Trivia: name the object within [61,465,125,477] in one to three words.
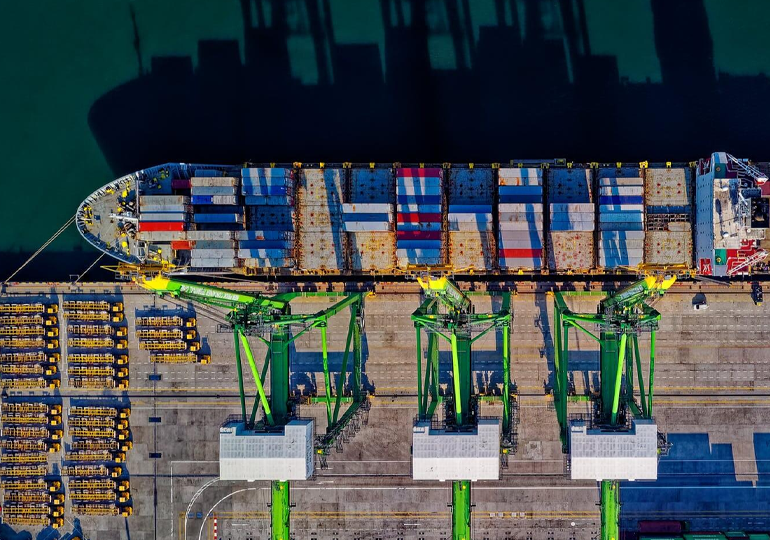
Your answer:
vehicle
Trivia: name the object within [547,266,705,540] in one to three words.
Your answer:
container crane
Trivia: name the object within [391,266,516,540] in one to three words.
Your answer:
container crane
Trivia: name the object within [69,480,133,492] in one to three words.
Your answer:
vehicle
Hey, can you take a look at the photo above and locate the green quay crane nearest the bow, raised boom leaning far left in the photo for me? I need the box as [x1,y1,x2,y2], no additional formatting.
[113,266,370,540]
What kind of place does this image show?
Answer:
port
